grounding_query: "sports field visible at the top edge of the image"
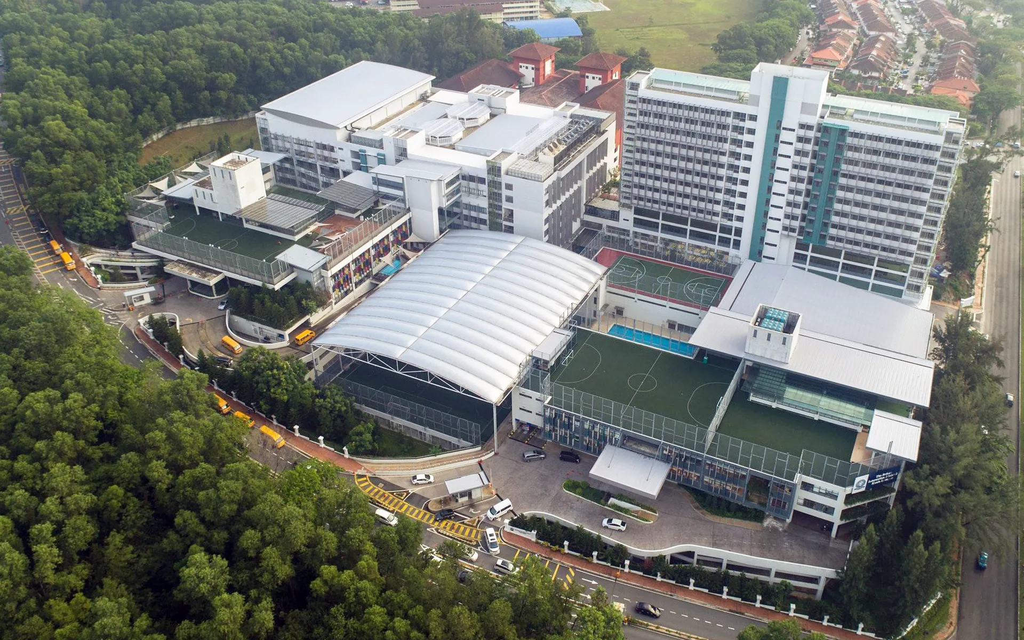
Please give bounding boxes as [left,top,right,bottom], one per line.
[575,0,777,98]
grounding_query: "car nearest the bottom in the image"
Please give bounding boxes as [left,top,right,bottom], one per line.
[635,601,663,618]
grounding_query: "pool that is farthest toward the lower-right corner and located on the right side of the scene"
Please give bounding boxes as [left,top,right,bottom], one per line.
[589,310,703,358]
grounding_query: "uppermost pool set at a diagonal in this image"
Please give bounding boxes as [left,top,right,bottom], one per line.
[371,242,416,280]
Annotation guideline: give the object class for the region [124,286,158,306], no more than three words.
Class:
shed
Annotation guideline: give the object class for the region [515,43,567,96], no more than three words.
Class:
house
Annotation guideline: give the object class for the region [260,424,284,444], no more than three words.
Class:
vehicle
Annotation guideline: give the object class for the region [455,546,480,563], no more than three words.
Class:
car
